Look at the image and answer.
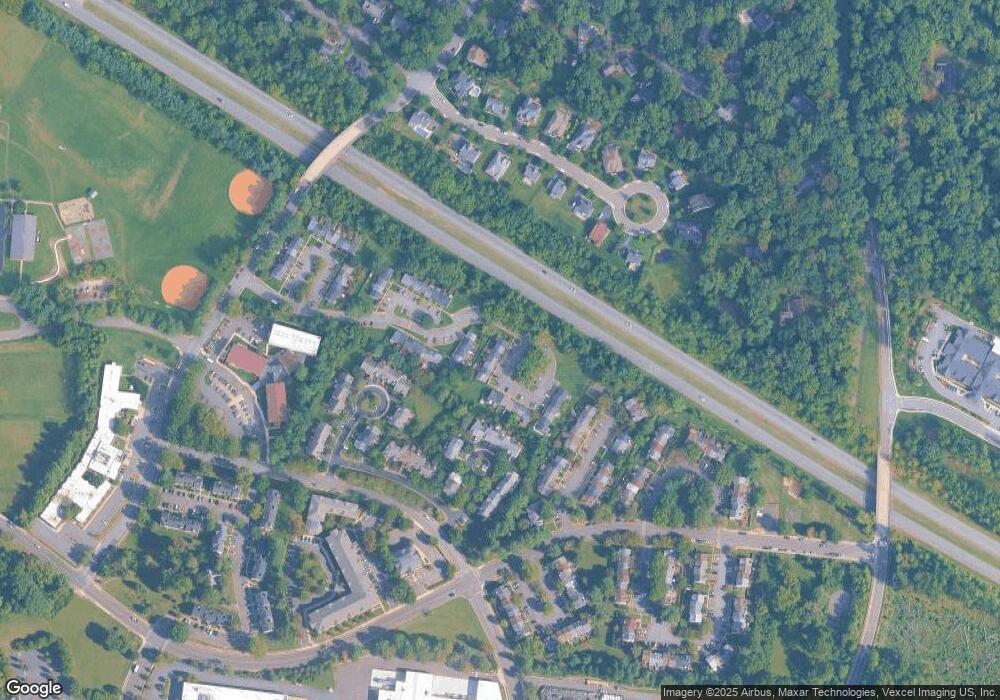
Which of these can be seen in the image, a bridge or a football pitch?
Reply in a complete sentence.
Of the two, only a bridge appears.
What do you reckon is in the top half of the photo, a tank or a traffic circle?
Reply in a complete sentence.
Visible in the top half of the photo is a traffic circle.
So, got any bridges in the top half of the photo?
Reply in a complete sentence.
Yes, a bridge shows up in the top half of the photo.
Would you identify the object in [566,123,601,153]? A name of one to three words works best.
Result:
house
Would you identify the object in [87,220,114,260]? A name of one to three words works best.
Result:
sports court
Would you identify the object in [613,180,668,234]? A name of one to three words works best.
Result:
roundabout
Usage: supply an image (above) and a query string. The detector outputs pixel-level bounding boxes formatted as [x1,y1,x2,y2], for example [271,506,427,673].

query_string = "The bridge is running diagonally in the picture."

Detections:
[295,113,375,192]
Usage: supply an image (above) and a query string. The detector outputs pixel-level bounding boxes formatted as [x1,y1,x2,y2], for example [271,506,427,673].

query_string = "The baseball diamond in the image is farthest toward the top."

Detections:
[229,169,272,215]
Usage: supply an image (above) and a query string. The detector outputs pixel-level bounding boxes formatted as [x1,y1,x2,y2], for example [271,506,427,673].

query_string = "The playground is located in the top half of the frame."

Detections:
[58,197,94,226]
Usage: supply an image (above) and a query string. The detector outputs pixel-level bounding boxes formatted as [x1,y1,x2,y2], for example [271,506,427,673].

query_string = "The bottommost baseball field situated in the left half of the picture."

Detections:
[162,266,208,310]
